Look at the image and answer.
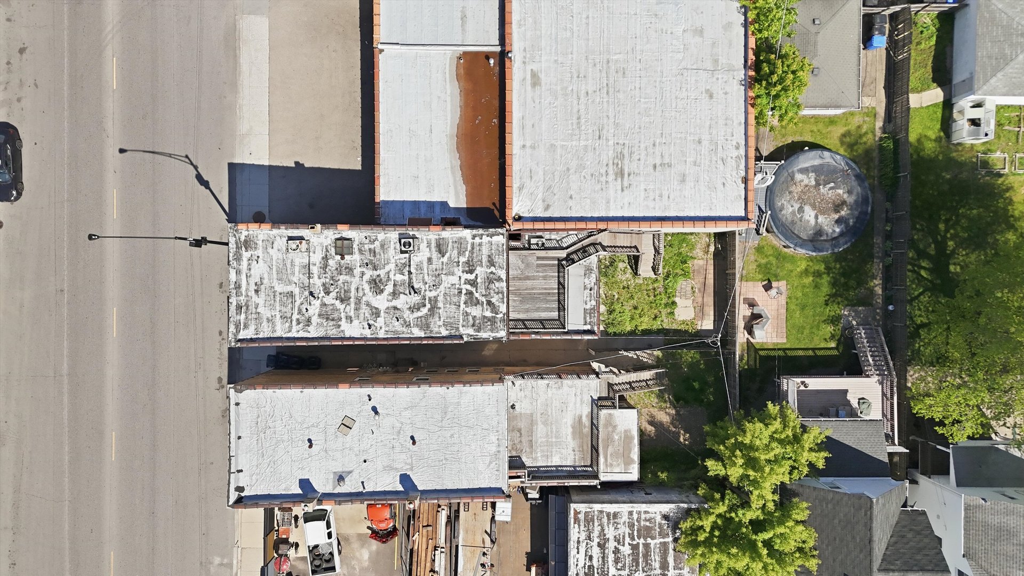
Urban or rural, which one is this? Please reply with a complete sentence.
This place is urban.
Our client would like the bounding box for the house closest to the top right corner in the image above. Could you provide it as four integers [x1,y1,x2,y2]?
[952,0,1024,104]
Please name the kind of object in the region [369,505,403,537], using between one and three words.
work vehicle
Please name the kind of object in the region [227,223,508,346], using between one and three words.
building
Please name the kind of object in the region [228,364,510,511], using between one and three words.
building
